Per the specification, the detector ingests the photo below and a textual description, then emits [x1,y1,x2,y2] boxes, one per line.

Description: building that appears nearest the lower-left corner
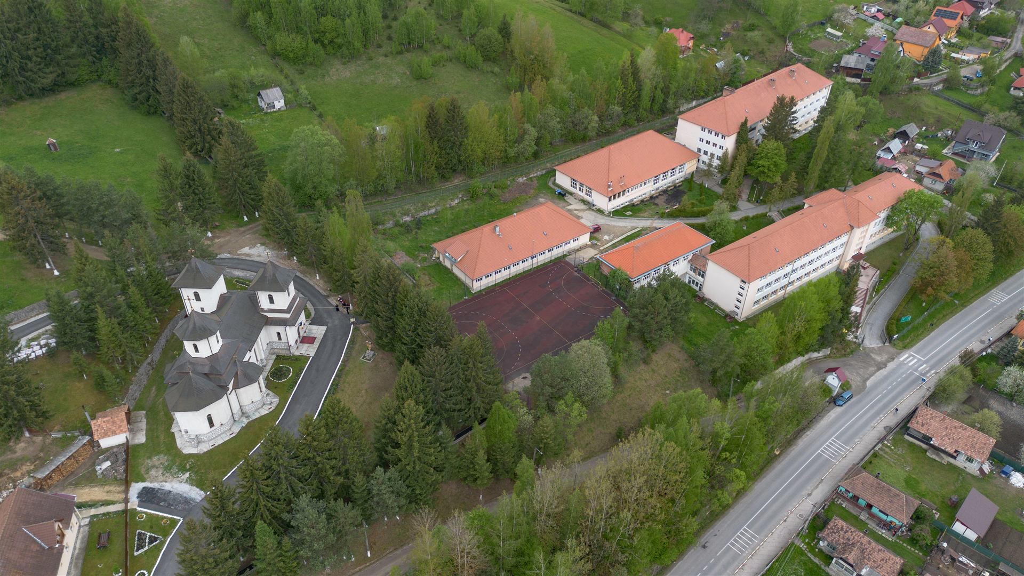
[0,492,83,576]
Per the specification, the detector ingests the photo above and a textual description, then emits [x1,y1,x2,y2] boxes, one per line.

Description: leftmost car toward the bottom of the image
[832,389,857,408]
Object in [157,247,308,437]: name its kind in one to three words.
church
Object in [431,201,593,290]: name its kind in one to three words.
building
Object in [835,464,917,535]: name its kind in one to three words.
house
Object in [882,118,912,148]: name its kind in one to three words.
shed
